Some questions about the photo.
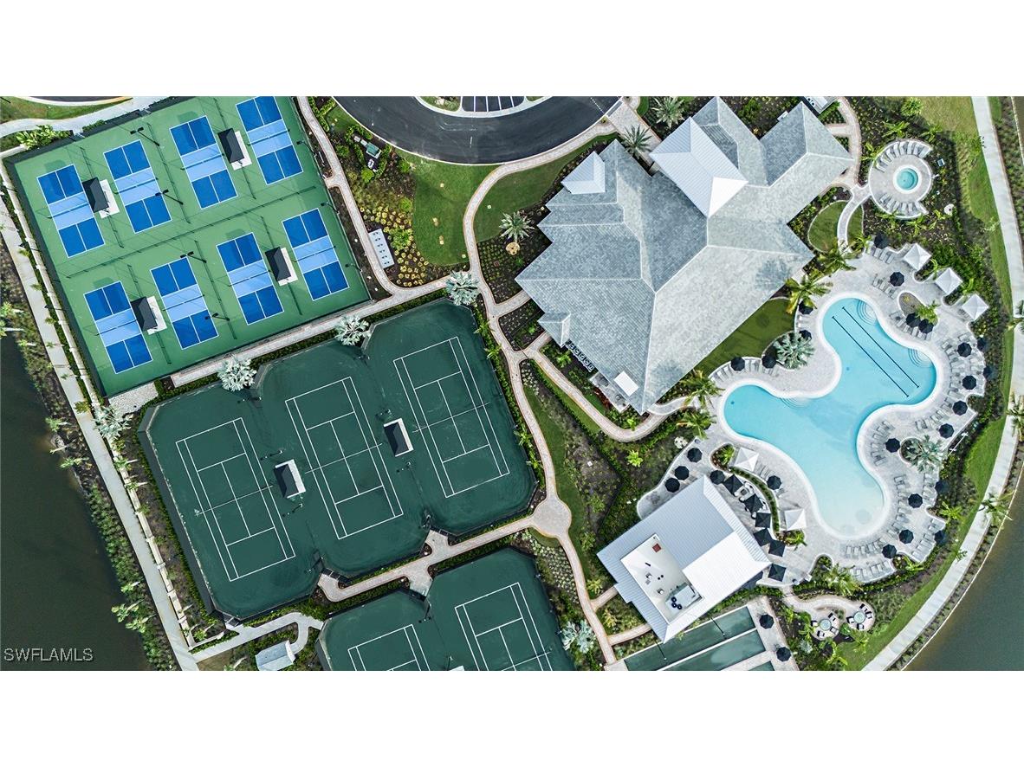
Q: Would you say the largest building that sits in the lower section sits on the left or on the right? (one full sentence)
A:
You can find the largest building that sits in the lower section on the right side of the picture.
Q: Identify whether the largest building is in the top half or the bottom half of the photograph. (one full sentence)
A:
The largest building is in the top half of the image.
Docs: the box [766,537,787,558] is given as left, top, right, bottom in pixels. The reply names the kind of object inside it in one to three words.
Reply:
umbrella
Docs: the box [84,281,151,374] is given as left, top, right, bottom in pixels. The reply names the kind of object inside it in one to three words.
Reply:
sports court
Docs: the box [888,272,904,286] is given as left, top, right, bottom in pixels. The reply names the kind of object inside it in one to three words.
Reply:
umbrella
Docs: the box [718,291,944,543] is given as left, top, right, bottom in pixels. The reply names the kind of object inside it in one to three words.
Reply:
swimming pool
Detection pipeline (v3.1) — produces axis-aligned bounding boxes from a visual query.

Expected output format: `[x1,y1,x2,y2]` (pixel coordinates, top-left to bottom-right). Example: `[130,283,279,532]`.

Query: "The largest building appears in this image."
[515,96,855,415]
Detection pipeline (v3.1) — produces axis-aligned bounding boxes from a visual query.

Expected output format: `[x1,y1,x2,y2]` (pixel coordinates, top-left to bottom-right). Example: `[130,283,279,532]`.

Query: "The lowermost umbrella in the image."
[775,645,791,661]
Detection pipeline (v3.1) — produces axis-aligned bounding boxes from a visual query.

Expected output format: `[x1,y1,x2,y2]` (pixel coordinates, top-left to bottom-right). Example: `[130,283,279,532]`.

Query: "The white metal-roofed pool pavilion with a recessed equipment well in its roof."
[597,475,772,643]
